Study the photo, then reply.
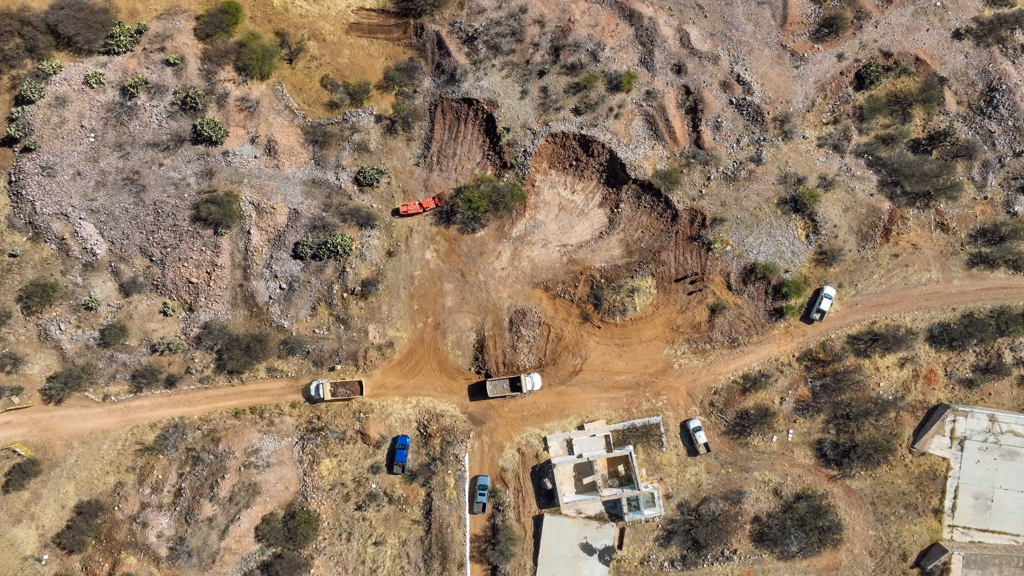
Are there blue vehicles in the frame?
Yes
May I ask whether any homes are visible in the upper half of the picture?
No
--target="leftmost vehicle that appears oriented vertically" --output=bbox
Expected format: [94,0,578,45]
[392,434,410,474]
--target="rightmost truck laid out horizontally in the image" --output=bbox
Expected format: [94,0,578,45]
[485,377,543,403]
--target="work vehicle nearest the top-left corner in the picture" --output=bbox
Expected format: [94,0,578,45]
[399,190,452,215]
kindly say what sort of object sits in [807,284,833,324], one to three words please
truck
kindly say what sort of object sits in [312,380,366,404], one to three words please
truck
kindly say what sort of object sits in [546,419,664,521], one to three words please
house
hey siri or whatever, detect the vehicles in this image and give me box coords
[473,474,490,514]
[392,434,410,474]
[807,284,833,324]
[485,377,543,403]
[685,416,713,457]
[312,380,366,404]
[399,190,452,215]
